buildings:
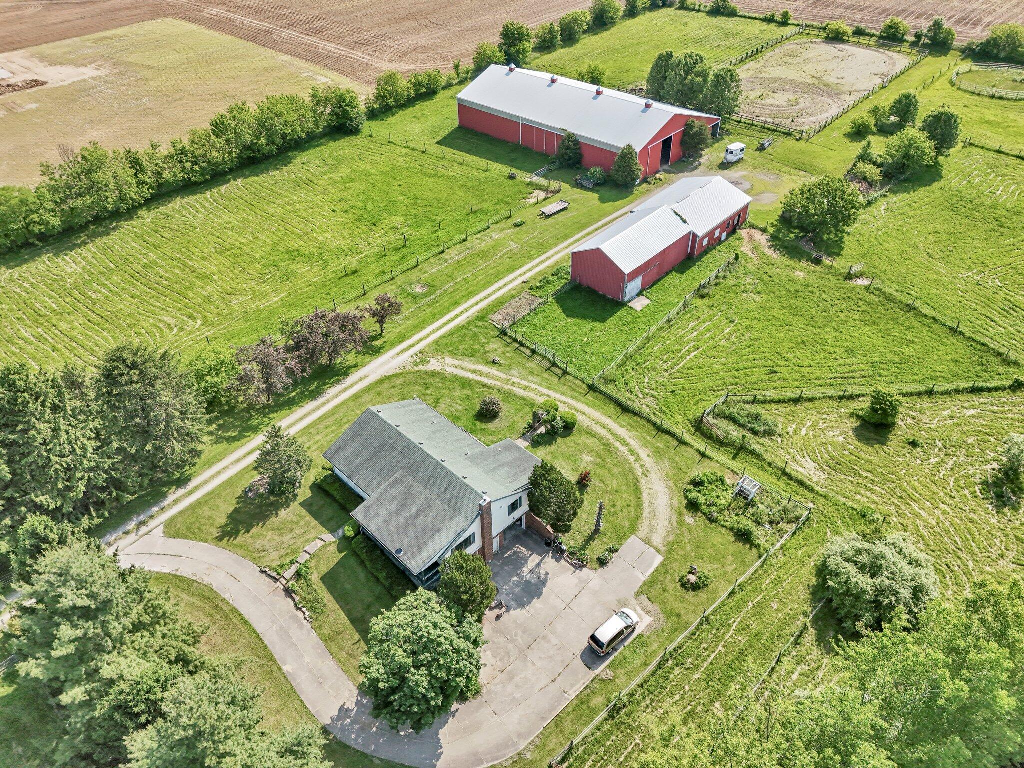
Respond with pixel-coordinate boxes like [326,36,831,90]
[456,66,723,180]
[322,401,552,606]
[570,175,755,302]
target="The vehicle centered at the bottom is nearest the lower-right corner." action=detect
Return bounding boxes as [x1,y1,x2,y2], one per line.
[588,604,640,654]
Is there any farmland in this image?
Yes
